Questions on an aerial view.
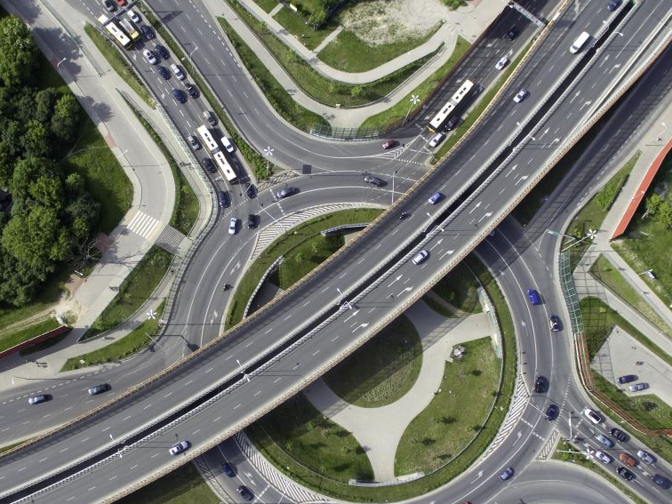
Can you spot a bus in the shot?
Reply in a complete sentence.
Yes, there's a bus down there.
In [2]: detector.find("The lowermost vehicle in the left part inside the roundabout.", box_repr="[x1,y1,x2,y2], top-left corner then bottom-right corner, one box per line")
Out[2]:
[237,484,252,502]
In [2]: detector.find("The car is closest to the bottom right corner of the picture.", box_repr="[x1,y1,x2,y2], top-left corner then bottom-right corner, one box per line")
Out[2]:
[653,473,672,490]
